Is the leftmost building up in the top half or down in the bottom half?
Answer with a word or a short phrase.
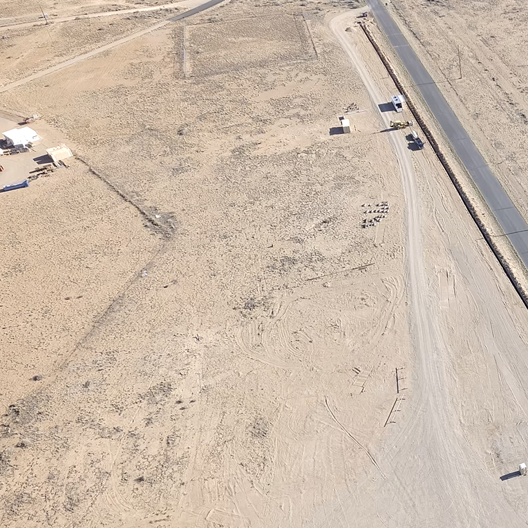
top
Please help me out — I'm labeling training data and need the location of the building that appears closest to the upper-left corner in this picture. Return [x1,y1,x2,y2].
[3,128,39,151]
